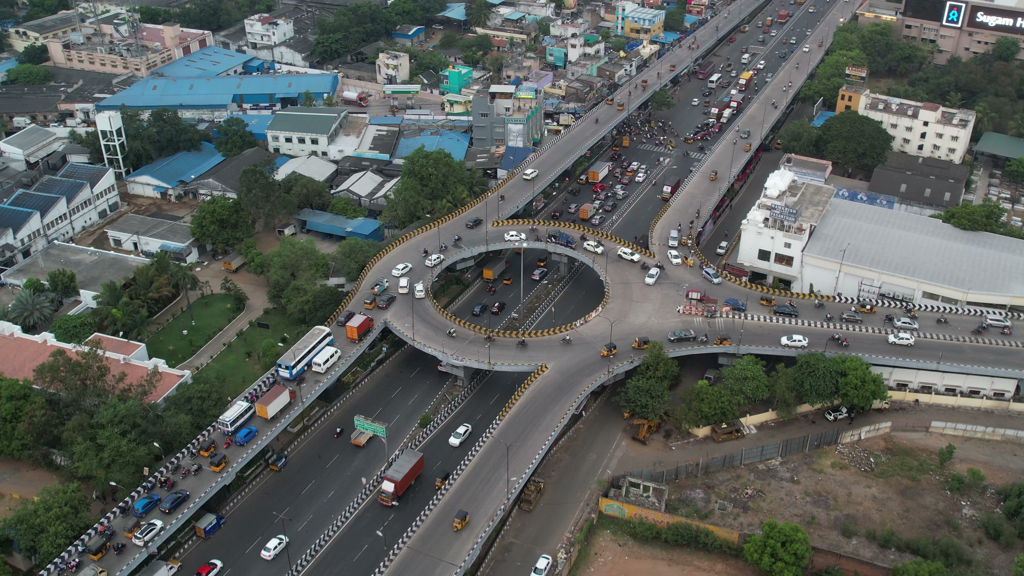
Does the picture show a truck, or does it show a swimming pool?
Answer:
truck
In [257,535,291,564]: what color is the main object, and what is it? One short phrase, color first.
white car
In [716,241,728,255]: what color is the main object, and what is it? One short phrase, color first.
white vehicle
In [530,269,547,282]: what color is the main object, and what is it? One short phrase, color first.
gray vehicle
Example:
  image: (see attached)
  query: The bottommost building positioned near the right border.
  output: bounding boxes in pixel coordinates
[883,370,1021,412]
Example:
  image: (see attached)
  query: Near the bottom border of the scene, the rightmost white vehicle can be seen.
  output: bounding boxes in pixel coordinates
[530,550,554,576]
